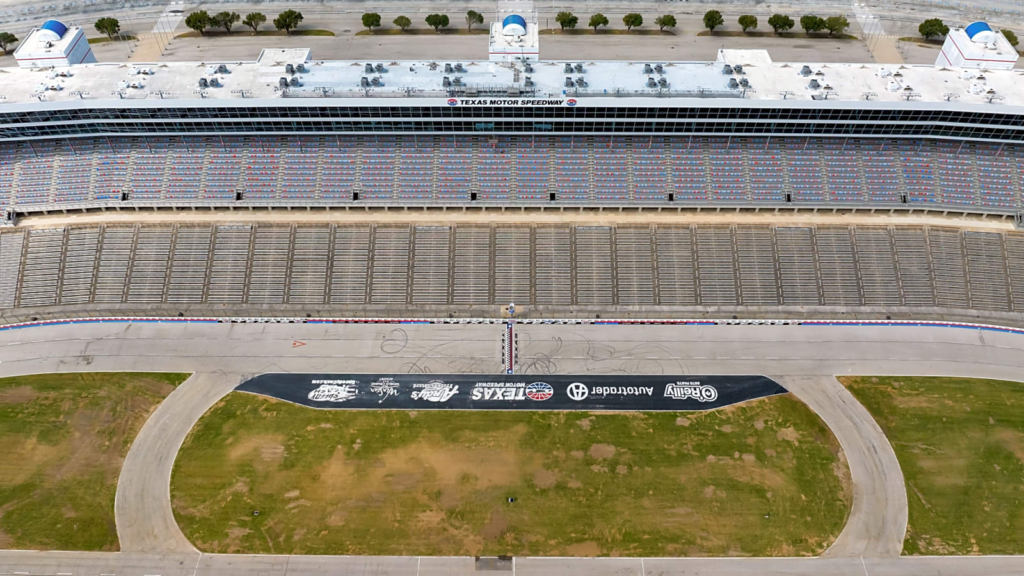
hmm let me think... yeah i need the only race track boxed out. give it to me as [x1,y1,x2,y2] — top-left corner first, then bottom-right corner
[0,322,1024,381]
